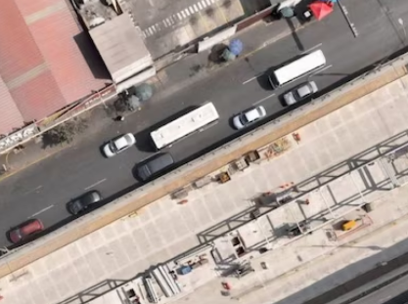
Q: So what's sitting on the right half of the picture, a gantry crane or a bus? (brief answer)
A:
bus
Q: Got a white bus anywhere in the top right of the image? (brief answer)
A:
Yes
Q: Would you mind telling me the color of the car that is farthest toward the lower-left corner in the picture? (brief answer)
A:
red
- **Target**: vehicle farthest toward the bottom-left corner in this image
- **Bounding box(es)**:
[6,216,45,244]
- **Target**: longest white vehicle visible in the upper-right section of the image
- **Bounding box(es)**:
[266,47,327,93]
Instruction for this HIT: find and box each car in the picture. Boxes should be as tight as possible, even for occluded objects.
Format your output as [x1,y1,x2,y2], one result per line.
[6,216,45,244]
[64,188,102,214]
[280,81,318,107]
[134,152,174,181]
[230,104,267,131]
[101,132,137,158]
